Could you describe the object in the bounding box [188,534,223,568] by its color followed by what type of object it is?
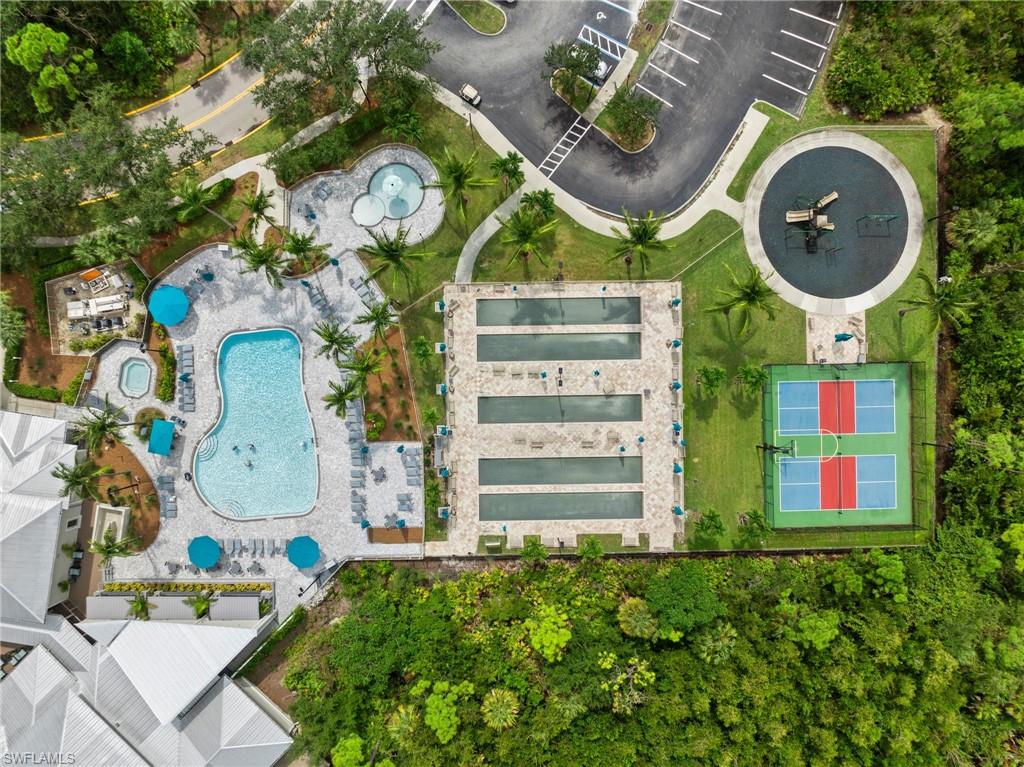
blue umbrella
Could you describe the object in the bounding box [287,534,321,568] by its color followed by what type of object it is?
blue umbrella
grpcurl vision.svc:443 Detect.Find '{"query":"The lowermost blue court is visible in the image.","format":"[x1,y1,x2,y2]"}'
[780,454,898,512]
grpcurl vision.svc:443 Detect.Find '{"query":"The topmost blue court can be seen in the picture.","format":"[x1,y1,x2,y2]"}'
[778,379,896,436]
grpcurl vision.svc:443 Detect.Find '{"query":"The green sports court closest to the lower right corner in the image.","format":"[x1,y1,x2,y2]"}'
[762,363,912,528]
